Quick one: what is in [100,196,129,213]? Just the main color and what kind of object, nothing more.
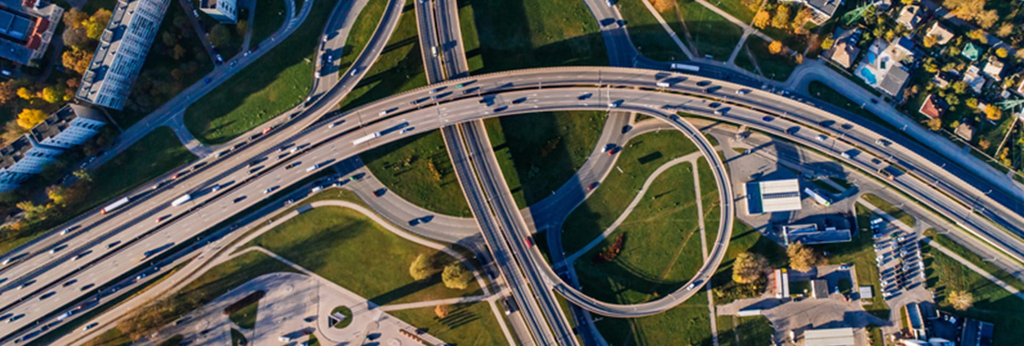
white vehicle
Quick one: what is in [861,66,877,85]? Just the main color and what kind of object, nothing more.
blue swimming pool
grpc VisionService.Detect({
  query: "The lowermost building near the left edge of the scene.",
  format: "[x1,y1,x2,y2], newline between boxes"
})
[0,135,64,187]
